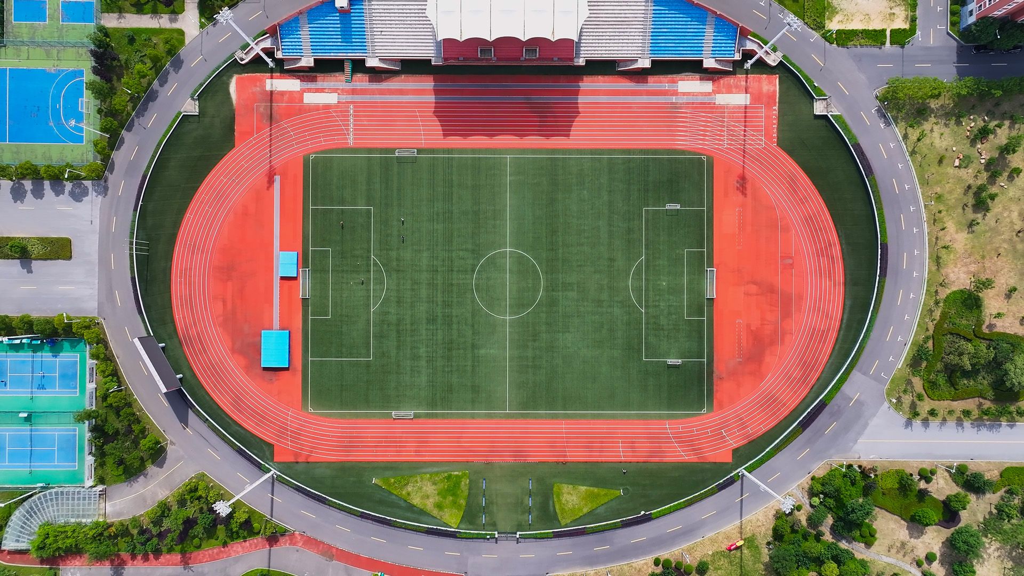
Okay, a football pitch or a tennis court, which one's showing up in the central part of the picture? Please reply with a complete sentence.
The feature located in the central part of the picture is a football pitch.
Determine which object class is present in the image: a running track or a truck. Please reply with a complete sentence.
There is a running track in the scene.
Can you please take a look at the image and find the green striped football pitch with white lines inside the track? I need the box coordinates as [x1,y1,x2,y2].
[302,148,714,419]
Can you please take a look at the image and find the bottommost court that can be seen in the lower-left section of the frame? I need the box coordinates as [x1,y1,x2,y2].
[0,414,85,487]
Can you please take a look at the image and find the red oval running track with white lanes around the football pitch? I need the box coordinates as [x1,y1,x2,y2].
[171,74,845,462]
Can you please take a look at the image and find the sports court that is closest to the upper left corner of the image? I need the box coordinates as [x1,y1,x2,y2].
[4,0,53,46]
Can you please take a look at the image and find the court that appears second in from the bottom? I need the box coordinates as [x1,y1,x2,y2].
[0,339,86,413]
